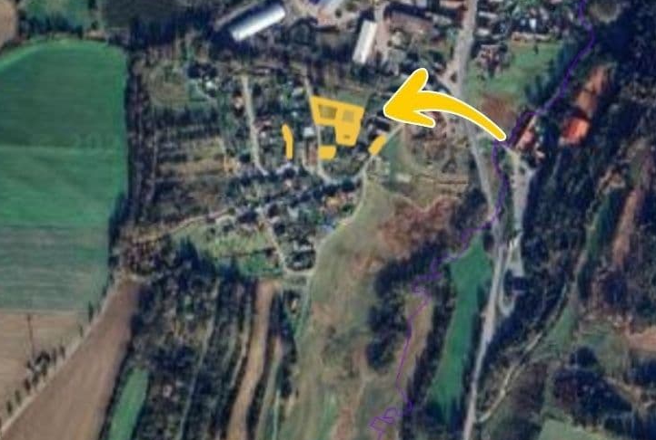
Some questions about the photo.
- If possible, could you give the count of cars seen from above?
zero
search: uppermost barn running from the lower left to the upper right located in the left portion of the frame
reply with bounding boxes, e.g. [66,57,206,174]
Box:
[228,0,286,40]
